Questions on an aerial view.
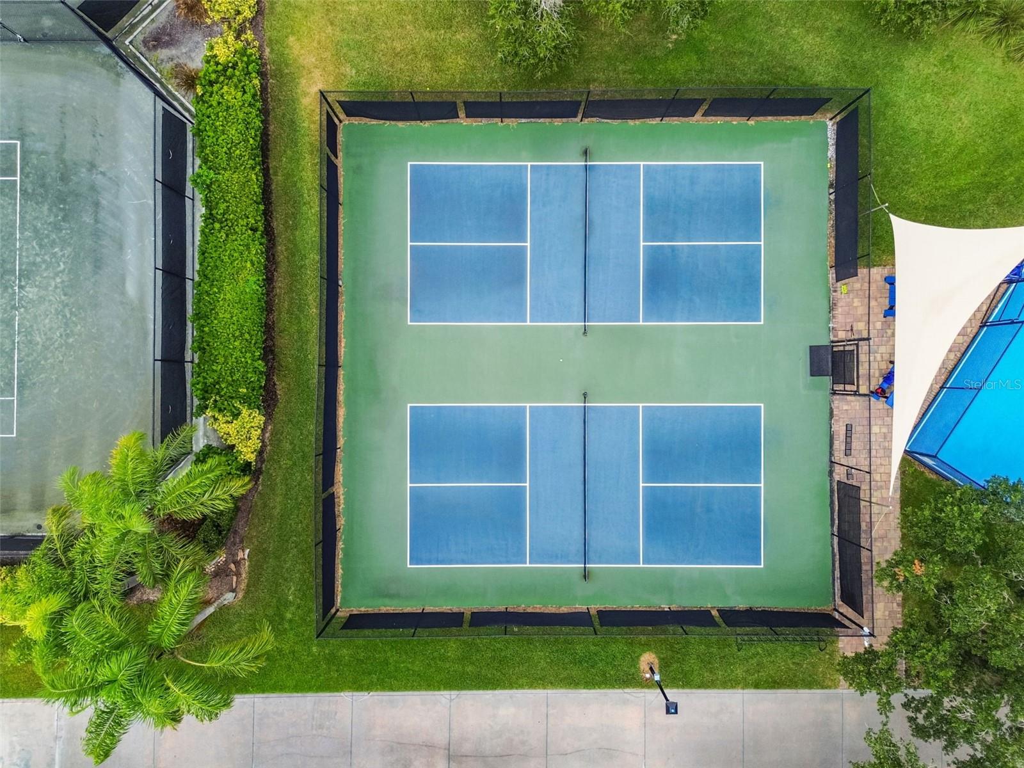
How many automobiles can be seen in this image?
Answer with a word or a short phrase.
0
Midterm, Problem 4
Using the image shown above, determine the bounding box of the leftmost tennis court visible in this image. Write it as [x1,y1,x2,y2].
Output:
[0,0,193,539]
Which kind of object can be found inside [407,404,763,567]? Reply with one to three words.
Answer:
sports court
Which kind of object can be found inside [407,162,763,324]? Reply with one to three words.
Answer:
sports court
